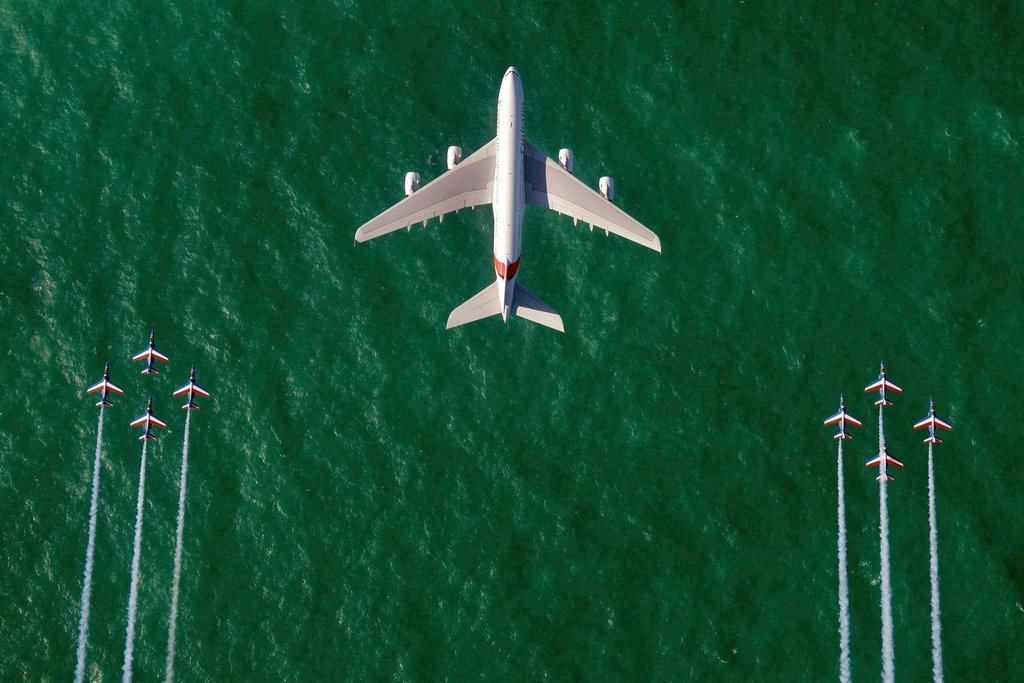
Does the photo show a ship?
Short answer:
No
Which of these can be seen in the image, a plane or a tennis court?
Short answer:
plane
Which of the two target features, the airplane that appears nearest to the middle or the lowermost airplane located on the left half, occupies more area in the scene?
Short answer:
the airplane that appears nearest to the middle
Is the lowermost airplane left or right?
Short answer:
right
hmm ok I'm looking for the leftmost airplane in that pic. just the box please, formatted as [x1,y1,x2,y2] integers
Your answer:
[87,361,123,406]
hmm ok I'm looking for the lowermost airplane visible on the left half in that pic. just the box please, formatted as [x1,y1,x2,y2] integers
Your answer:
[131,396,167,440]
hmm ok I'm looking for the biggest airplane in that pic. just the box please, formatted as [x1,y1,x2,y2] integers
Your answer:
[354,67,660,332]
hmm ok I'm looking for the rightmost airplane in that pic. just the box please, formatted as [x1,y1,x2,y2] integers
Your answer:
[914,398,951,443]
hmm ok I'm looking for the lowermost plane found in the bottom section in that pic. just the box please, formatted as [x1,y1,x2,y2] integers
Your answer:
[866,435,903,480]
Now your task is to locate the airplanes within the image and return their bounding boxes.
[173,364,210,409]
[87,361,123,406]
[914,398,951,443]
[866,435,903,480]
[864,358,902,405]
[131,396,167,440]
[824,394,862,439]
[354,67,660,332]
[133,331,169,374]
